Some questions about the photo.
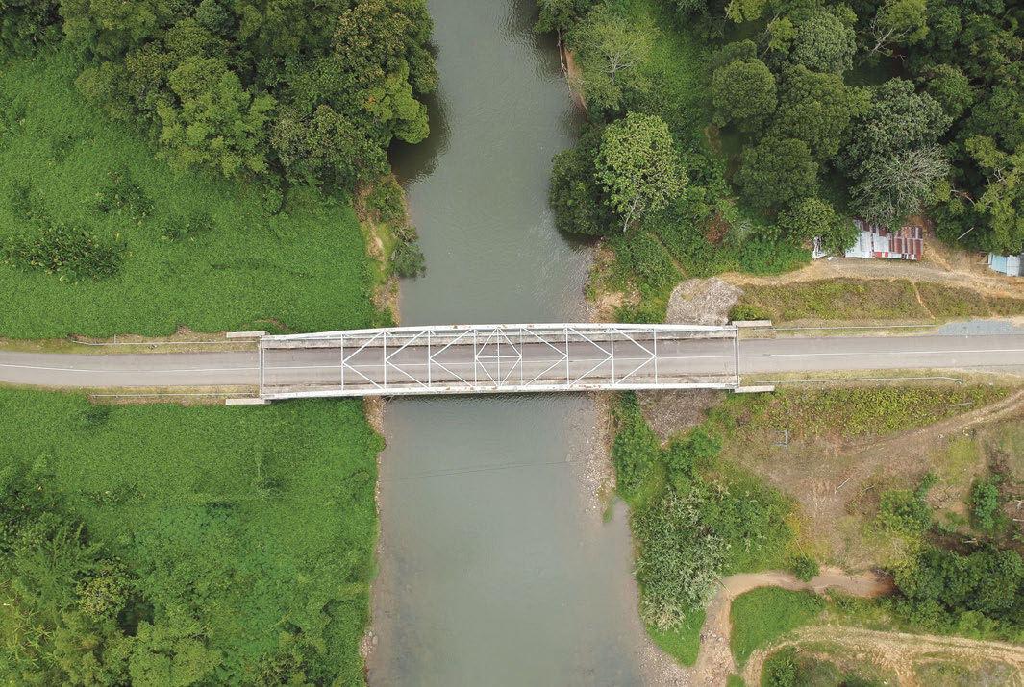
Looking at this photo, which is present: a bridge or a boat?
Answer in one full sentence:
This aerial view contains a bridge.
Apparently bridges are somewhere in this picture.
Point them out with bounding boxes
[224,321,775,403]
